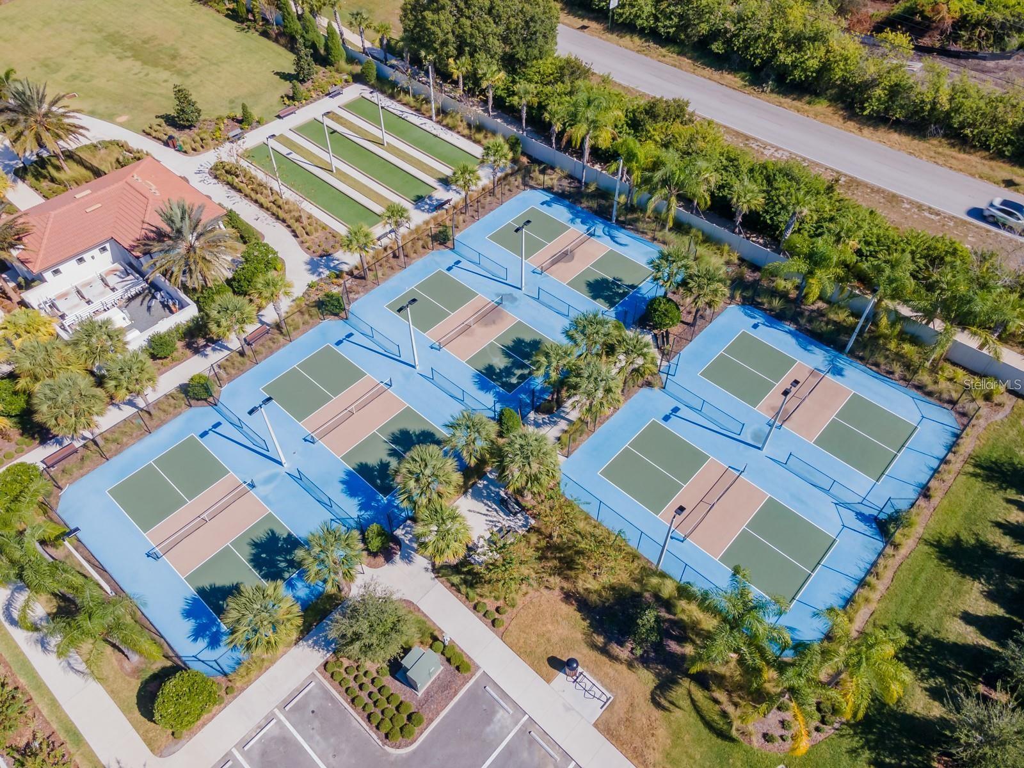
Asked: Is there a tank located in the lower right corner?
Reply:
No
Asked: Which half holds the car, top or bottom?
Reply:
top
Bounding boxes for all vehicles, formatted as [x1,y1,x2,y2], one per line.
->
[982,201,1024,239]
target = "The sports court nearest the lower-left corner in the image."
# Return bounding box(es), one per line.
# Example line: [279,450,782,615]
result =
[108,434,305,629]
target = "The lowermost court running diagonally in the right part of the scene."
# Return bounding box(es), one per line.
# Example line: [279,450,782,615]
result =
[600,420,838,610]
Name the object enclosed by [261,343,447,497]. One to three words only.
sports court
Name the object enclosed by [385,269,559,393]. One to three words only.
sports court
